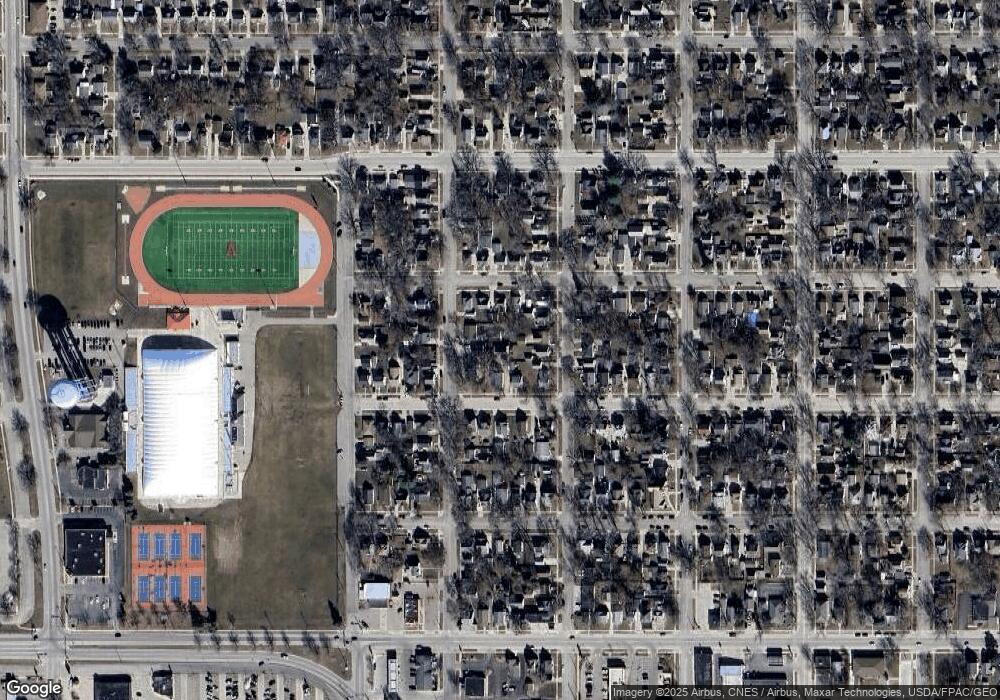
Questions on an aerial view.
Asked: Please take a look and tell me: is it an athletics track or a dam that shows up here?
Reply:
athletics track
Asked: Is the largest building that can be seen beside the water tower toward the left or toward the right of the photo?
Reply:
left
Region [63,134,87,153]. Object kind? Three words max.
house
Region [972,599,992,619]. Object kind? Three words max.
building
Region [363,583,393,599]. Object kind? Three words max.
building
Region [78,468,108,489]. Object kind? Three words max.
house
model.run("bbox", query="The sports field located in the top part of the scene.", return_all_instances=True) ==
[145,207,299,293]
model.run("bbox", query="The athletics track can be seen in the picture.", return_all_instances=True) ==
[130,193,333,310]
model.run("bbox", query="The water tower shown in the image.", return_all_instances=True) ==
[51,377,98,409]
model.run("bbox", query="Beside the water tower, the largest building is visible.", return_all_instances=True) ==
[67,415,108,447]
